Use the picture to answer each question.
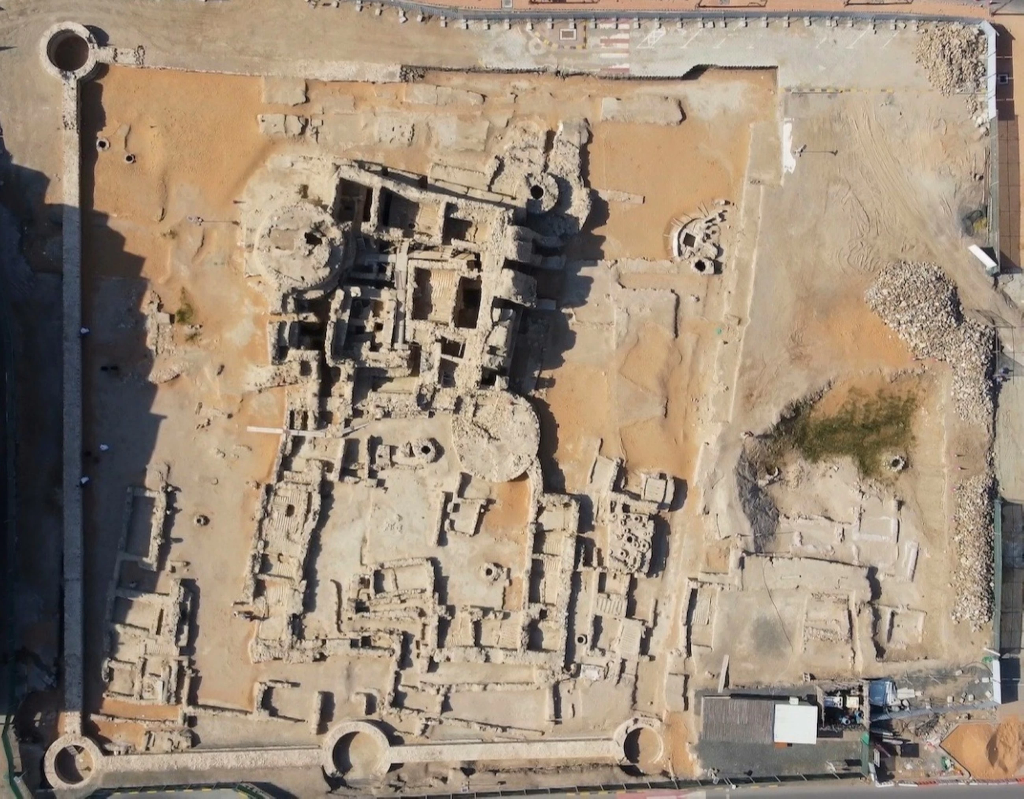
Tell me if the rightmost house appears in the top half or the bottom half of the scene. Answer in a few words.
bottom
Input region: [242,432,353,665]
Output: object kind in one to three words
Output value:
house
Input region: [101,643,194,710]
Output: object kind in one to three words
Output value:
house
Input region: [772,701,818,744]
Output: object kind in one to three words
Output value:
building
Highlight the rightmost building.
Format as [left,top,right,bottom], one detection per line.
[875,605,928,649]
